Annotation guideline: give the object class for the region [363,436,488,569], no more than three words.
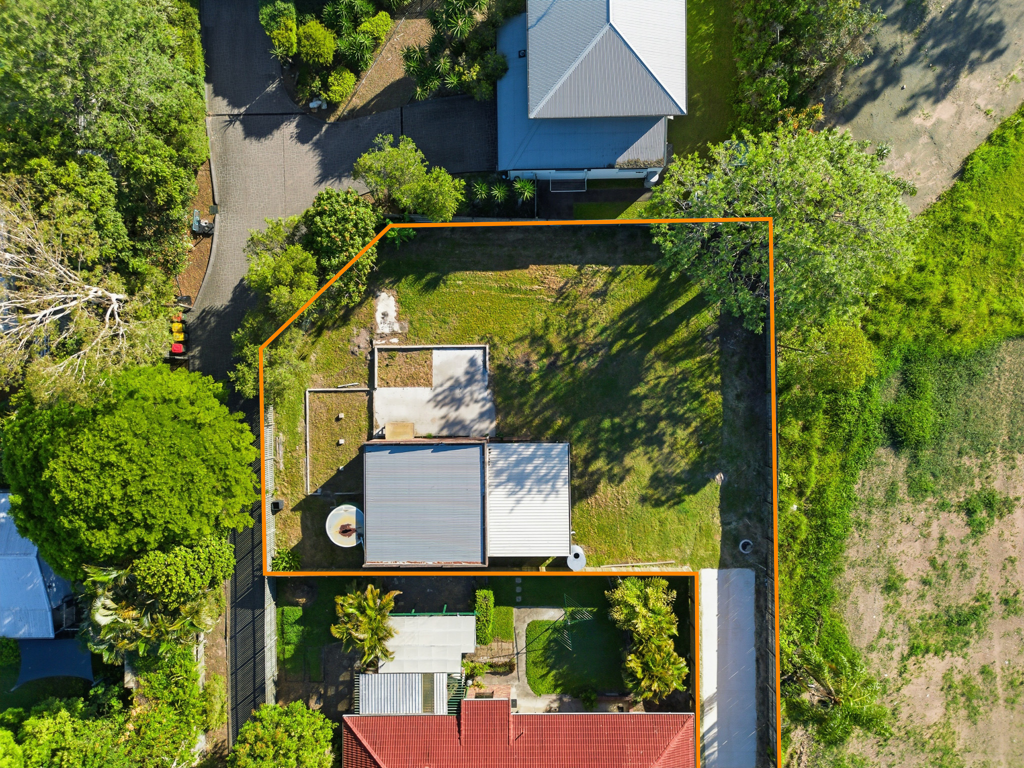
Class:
shed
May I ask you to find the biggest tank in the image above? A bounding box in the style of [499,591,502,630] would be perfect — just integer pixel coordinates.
[325,499,364,555]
